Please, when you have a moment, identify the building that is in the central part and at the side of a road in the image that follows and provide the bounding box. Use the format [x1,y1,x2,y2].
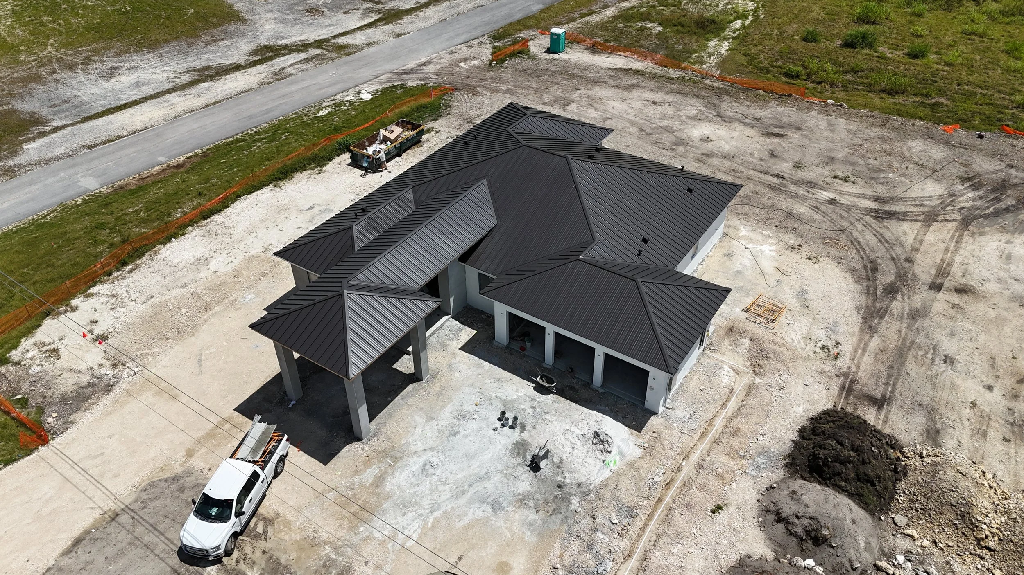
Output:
[248,102,743,437]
